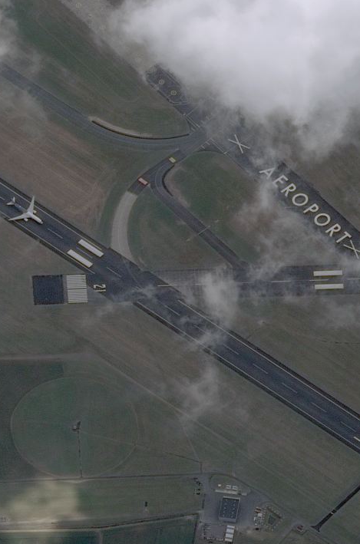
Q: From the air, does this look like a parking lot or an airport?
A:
airport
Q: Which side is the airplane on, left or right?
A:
left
